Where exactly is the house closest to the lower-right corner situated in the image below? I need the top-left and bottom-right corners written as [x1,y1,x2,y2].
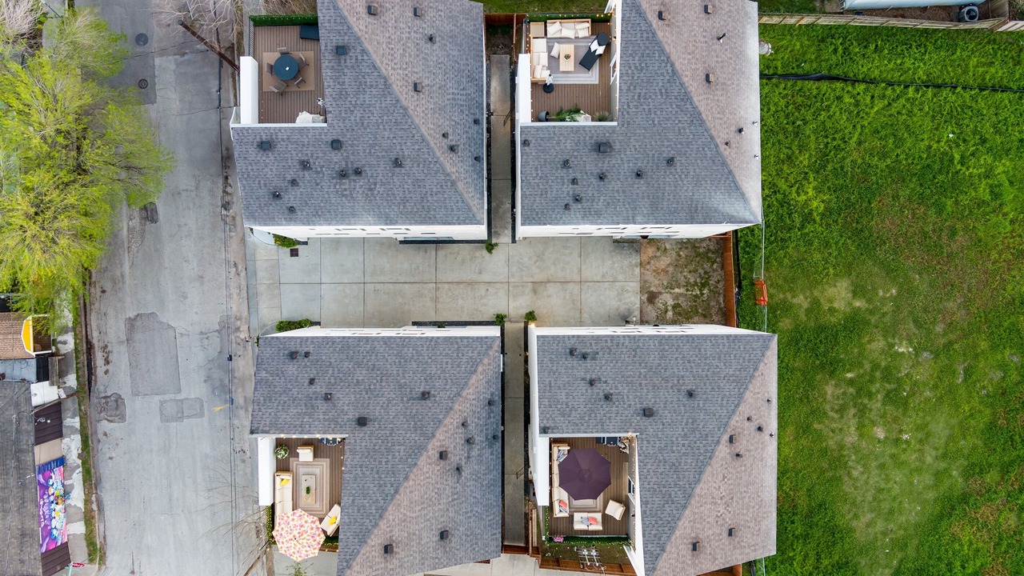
[529,324,780,576]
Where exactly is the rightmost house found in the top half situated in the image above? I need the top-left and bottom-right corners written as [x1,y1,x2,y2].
[516,0,763,239]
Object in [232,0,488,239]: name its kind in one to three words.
house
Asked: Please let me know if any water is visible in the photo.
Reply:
No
